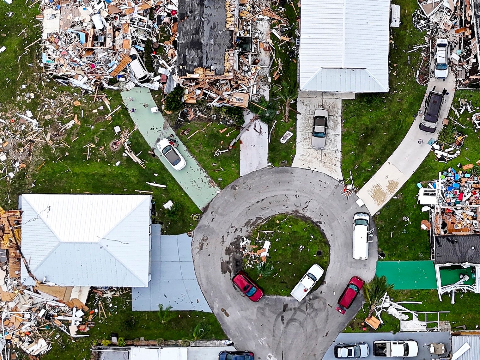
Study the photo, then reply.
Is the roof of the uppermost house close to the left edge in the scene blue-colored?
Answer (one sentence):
No, the color of the roof of the uppermost house close to the left edge is white.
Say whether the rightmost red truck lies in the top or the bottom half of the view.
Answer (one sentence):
The bottom half of the photo is where the rightmost red truck is.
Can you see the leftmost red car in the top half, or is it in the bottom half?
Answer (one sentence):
The leftmost red car is in the bottom half of the image.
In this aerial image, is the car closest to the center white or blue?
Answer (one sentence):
The color of the car closest to the center is white.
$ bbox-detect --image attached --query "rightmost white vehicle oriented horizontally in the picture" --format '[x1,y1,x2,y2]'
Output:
[372,339,419,360]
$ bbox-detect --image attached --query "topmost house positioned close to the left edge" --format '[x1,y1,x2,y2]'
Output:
[0,193,153,288]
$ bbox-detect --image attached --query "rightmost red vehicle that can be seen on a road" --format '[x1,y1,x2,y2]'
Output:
[332,273,364,317]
